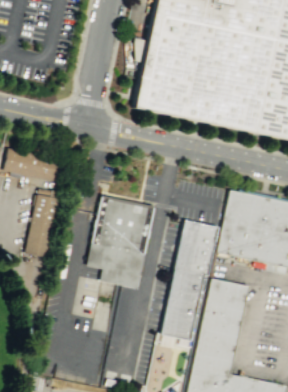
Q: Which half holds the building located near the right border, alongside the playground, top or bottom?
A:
bottom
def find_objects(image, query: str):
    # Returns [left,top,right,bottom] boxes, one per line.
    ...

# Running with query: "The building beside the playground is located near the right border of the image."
[186,278,286,392]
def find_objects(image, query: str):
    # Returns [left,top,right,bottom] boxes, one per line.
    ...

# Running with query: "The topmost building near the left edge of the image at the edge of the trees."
[5,144,58,180]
